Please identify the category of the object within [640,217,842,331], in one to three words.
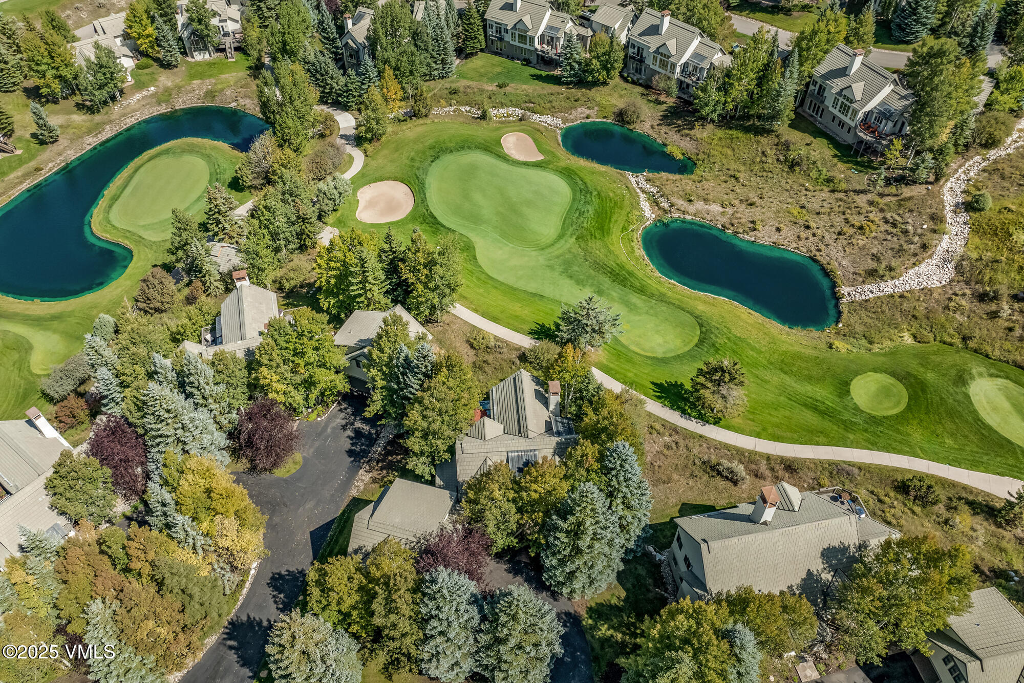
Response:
pond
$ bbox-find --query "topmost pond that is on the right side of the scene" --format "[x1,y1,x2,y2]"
[560,121,696,175]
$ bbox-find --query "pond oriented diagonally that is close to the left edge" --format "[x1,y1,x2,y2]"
[0,105,272,302]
